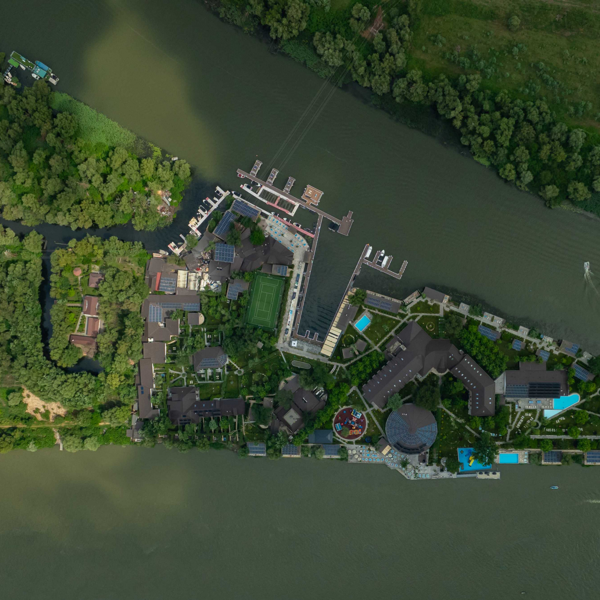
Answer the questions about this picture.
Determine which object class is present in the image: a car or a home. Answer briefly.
home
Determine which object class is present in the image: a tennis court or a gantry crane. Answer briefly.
tennis court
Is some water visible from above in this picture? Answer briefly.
Yes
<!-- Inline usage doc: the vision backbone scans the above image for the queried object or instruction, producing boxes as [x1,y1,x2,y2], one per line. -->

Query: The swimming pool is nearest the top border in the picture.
[354,315,372,332]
